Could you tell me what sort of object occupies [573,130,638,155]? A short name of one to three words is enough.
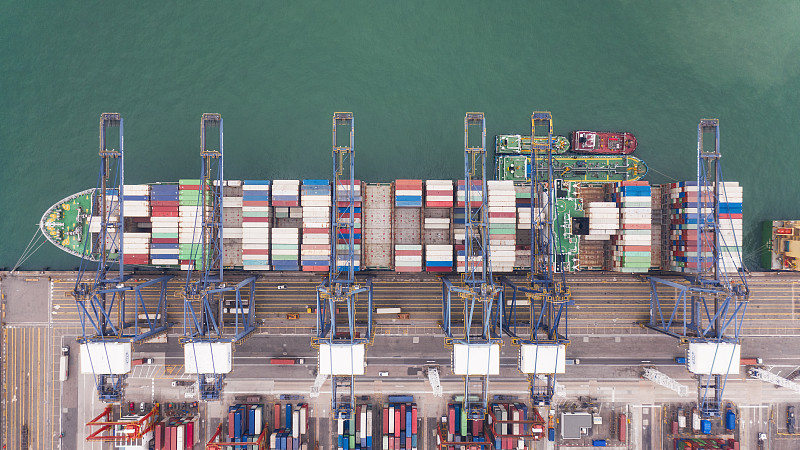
boat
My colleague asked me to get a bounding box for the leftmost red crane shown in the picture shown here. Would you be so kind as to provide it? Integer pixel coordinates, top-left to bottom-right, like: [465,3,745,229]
[85,405,159,445]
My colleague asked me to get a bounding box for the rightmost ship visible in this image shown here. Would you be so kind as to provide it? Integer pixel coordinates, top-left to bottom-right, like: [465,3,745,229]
[762,220,800,270]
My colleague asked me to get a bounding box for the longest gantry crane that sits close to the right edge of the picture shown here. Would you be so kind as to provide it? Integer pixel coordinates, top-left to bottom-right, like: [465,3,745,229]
[633,120,760,422]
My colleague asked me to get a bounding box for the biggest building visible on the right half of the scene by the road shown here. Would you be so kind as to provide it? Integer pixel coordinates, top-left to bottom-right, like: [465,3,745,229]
[558,408,592,439]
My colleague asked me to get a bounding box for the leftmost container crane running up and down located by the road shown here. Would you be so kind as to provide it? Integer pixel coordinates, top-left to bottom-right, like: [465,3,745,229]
[62,113,185,405]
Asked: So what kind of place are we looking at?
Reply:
port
